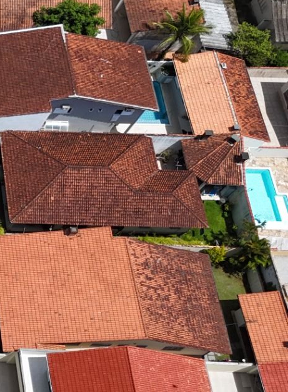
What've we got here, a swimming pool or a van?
swimming pool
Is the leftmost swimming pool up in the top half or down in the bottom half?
top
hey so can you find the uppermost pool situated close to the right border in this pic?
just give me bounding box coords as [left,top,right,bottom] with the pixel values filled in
[247,164,288,227]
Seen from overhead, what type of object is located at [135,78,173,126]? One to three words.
swimming pool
